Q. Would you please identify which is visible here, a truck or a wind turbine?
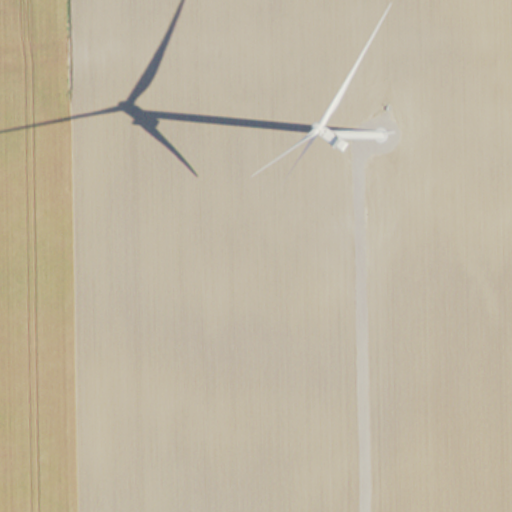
wind turbine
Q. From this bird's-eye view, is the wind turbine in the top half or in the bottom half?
top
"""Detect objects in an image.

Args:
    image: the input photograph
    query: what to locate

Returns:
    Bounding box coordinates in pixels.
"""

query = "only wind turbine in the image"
[252,2,396,183]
